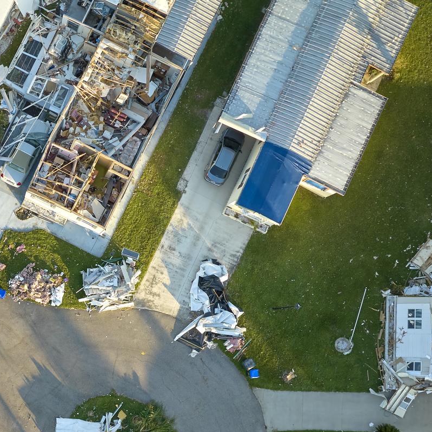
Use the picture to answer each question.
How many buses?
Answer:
0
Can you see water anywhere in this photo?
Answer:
No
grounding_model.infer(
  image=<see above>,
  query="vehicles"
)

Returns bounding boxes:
[0,111,49,190]
[199,125,252,191]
